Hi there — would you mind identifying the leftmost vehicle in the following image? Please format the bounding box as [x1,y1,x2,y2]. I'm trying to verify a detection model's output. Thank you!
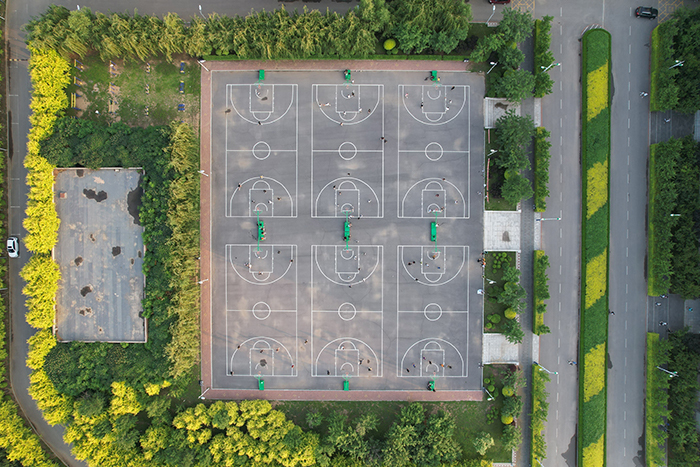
[8,237,21,258]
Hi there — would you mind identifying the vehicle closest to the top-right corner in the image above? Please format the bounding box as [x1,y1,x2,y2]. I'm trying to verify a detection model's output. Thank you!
[634,8,656,20]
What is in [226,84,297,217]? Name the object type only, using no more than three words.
basketball court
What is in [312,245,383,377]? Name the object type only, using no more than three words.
basketball court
